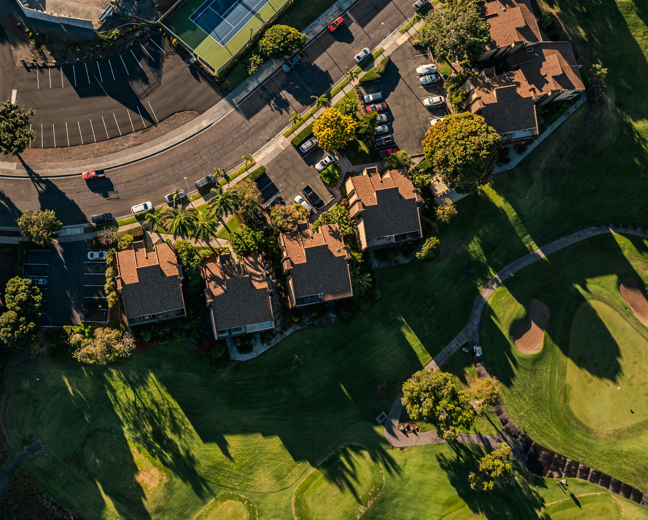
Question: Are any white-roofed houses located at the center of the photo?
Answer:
No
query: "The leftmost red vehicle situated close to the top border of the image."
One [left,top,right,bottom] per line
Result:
[326,15,346,33]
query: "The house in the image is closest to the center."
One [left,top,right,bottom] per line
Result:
[278,218,355,306]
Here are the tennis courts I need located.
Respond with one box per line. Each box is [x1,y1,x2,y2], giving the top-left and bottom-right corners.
[189,0,268,46]
[169,0,283,69]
